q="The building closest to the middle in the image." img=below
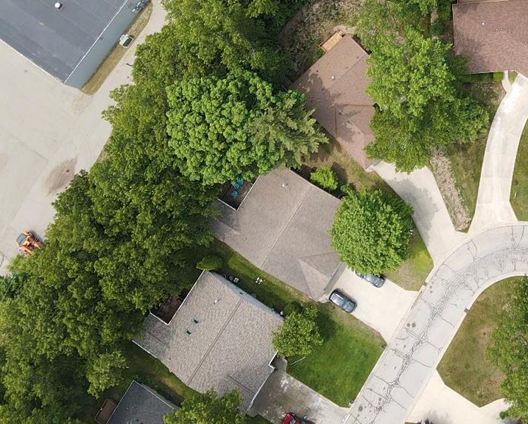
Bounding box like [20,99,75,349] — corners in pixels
[204,158,353,301]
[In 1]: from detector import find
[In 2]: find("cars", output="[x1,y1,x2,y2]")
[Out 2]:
[326,289,357,313]
[281,414,304,424]
[354,270,385,287]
